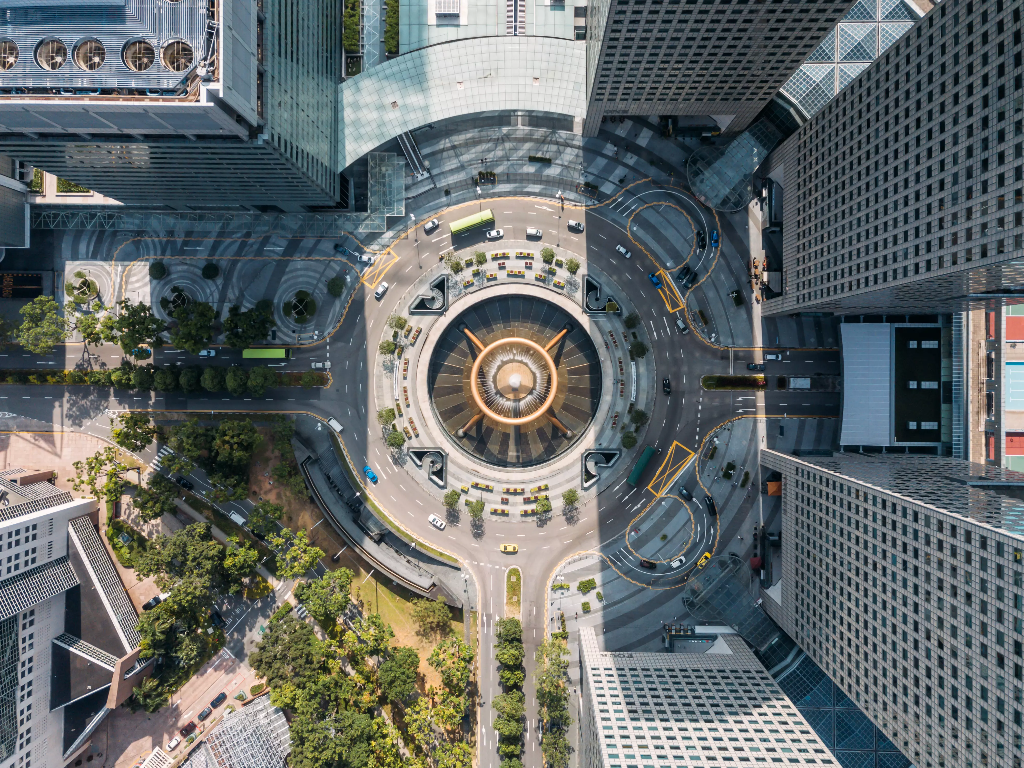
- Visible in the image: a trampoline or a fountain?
fountain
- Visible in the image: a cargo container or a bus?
bus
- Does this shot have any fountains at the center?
Yes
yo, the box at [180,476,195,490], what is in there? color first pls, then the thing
black car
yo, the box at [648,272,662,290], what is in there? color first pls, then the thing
blue car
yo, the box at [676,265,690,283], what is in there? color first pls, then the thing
black car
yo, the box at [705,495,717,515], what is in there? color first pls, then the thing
black vehicle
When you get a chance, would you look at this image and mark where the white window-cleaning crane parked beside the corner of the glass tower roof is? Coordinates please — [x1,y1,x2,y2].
[194,19,216,85]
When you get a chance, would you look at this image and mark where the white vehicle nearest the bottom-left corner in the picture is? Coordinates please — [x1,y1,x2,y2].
[165,736,181,751]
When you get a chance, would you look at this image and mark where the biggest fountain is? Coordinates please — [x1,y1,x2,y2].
[423,289,606,472]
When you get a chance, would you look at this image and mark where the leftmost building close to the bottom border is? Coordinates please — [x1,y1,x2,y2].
[0,466,175,768]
